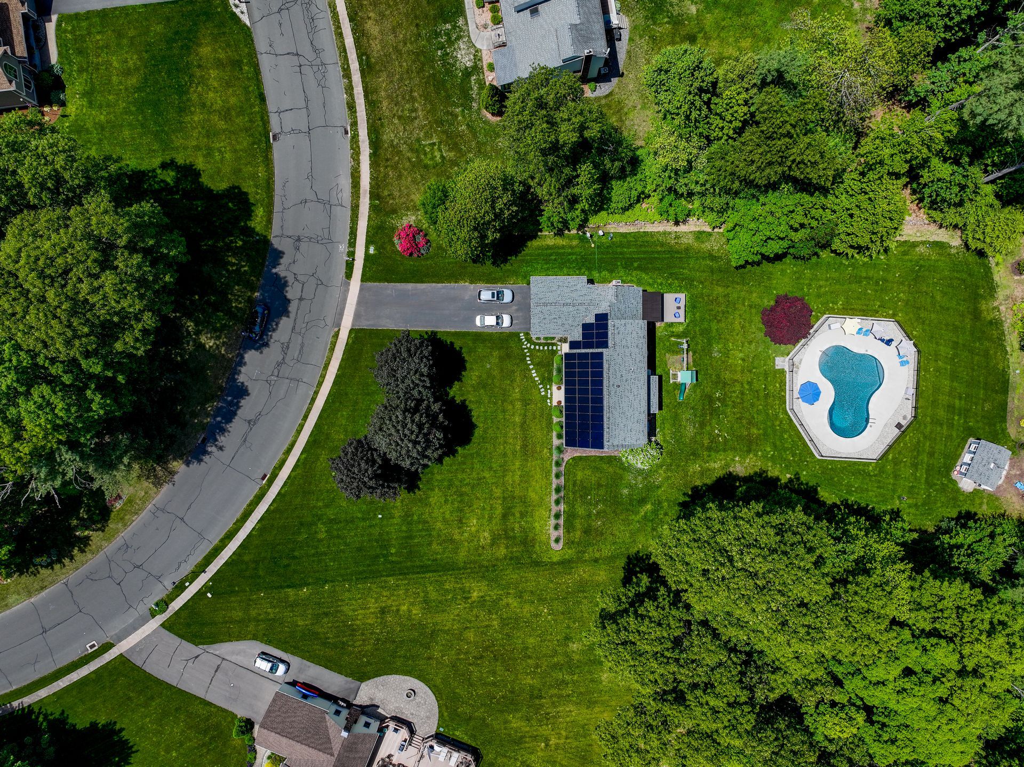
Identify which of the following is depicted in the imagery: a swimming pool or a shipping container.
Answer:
swimming pool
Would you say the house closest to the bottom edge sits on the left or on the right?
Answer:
left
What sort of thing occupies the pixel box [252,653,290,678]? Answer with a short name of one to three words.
car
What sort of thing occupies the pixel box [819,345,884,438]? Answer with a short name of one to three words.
swimming pool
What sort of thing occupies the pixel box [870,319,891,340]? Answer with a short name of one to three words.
umbrella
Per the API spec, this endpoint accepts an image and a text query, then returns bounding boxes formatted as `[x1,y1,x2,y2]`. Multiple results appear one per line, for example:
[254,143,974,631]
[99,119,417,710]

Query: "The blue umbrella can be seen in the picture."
[793,381,820,404]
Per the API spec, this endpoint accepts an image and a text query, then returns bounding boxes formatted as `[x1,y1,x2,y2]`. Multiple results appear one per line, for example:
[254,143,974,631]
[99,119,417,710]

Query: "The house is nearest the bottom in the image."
[254,684,381,767]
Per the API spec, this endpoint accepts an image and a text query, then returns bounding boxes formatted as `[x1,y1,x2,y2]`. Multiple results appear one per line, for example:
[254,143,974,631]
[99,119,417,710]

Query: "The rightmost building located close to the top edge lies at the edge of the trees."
[491,0,627,92]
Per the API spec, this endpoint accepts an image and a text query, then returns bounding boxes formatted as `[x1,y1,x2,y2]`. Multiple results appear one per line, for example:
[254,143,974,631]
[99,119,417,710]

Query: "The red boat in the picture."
[296,682,319,695]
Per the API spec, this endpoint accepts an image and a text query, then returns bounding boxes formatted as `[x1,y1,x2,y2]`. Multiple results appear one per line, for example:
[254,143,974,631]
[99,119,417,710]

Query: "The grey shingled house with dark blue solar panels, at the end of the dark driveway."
[530,276,658,451]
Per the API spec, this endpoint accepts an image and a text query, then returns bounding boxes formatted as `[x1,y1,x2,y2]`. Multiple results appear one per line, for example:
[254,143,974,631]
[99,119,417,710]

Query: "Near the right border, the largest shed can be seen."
[957,440,1012,492]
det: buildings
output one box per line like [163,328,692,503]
[254,684,381,767]
[0,0,52,108]
[530,276,658,451]
[957,440,1012,492]
[491,0,627,92]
